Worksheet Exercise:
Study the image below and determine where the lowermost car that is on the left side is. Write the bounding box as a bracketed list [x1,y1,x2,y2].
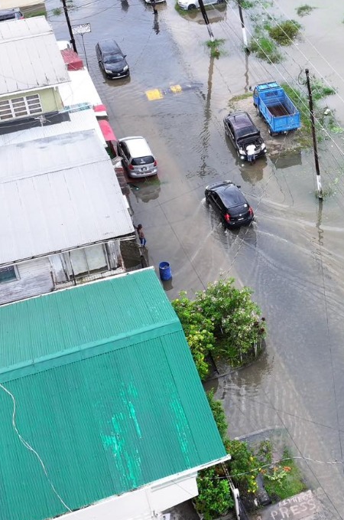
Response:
[110,130,155,179]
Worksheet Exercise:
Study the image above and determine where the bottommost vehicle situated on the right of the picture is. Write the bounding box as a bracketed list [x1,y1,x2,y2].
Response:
[198,176,256,227]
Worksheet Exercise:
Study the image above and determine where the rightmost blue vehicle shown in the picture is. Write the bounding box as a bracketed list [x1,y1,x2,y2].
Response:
[244,72,303,133]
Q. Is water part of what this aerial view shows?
Yes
